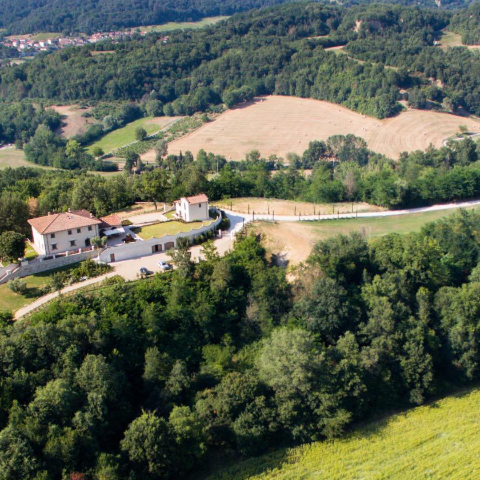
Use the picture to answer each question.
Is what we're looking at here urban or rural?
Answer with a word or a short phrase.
rural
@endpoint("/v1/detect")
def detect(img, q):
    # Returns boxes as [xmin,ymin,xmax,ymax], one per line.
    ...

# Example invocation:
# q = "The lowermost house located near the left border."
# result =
[24,205,103,255]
